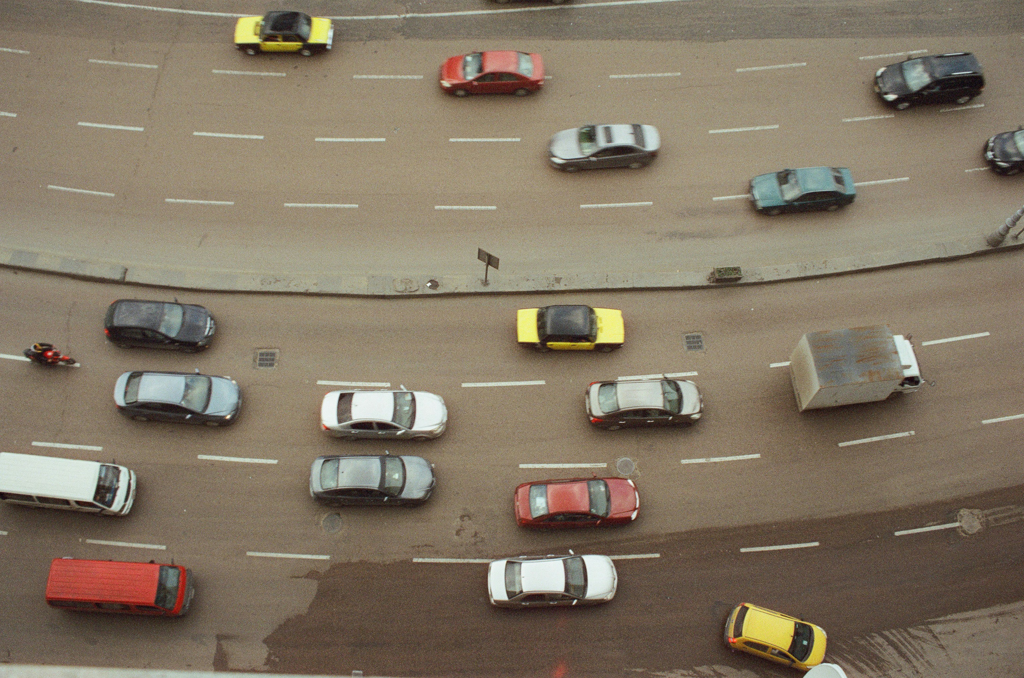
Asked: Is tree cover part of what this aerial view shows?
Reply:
No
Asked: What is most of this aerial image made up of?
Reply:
paved ground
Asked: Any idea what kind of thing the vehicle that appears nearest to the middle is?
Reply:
car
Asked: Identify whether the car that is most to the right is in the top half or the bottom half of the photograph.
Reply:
top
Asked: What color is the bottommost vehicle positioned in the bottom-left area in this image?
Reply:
red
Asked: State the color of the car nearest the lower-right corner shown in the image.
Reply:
yellow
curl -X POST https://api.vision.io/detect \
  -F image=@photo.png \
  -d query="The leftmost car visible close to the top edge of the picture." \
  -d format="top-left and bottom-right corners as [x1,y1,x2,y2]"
[235,10,333,56]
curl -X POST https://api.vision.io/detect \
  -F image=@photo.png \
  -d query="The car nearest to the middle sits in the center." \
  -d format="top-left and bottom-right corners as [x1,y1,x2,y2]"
[517,300,625,352]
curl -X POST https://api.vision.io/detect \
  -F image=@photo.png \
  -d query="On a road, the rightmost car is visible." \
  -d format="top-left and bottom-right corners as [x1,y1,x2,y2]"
[984,127,1024,179]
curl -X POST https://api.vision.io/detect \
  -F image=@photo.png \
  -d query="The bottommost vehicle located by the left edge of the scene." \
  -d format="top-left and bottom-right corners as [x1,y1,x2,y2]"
[46,559,193,620]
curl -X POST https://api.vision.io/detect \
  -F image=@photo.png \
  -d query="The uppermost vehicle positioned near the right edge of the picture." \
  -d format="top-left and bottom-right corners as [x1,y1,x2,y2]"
[873,51,985,110]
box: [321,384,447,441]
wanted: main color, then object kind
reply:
white car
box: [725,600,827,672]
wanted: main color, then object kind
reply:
yellow car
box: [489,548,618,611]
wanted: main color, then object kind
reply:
white car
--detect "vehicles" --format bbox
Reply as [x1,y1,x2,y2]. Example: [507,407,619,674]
[725,600,827,672]
[792,326,931,411]
[439,49,544,97]
[105,296,214,353]
[873,51,985,110]
[515,469,639,530]
[235,10,333,56]
[517,300,625,352]
[984,127,1024,179]
[749,164,856,215]
[548,122,661,174]
[310,448,435,506]
[489,548,618,611]
[585,372,704,430]
[321,384,447,441]
[46,559,193,620]
[0,453,136,517]
[114,369,242,426]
